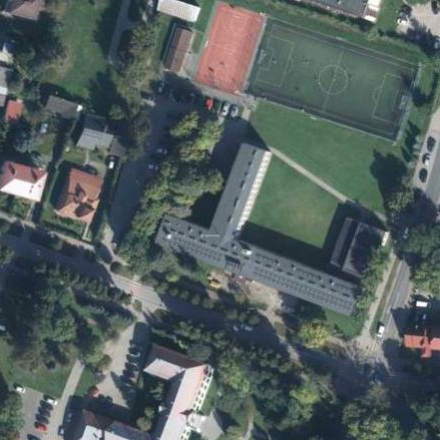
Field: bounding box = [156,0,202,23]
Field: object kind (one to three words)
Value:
shed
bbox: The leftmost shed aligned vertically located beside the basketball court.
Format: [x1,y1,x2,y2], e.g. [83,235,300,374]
[164,24,194,74]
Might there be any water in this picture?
No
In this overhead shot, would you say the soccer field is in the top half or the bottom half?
top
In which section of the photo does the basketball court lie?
top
